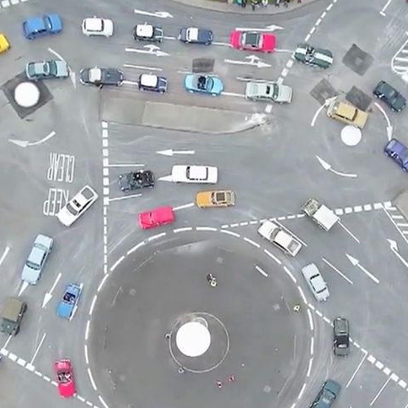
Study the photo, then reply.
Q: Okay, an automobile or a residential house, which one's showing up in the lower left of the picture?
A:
automobile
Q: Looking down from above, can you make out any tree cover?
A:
No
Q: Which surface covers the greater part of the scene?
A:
paved ground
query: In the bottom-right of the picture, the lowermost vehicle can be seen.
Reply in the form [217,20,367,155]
[310,378,339,408]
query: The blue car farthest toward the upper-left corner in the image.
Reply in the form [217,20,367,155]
[21,12,64,42]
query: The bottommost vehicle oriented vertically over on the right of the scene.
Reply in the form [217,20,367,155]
[331,317,350,357]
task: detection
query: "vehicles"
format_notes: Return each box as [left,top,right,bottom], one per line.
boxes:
[298,196,344,232]
[79,65,123,87]
[301,261,329,302]
[0,33,13,56]
[136,208,176,228]
[136,72,168,95]
[310,378,339,408]
[331,317,350,357]
[256,219,302,257]
[25,59,70,82]
[132,21,164,44]
[21,12,64,42]
[227,28,276,55]
[382,135,408,176]
[181,72,224,98]
[242,79,292,103]
[23,234,52,285]
[324,97,369,127]
[57,181,98,229]
[369,77,408,115]
[178,25,213,47]
[291,42,332,70]
[116,170,154,191]
[57,282,81,321]
[81,18,113,38]
[0,295,28,338]
[170,164,217,184]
